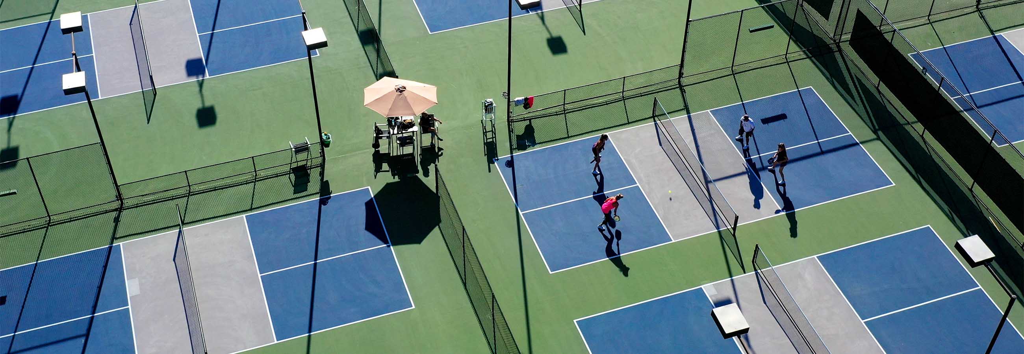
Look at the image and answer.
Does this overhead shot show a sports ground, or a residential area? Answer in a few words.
sports ground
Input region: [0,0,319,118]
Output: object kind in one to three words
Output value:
sports court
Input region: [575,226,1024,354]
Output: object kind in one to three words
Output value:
sports court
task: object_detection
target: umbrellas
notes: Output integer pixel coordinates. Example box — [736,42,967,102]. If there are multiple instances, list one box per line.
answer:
[364,77,438,121]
